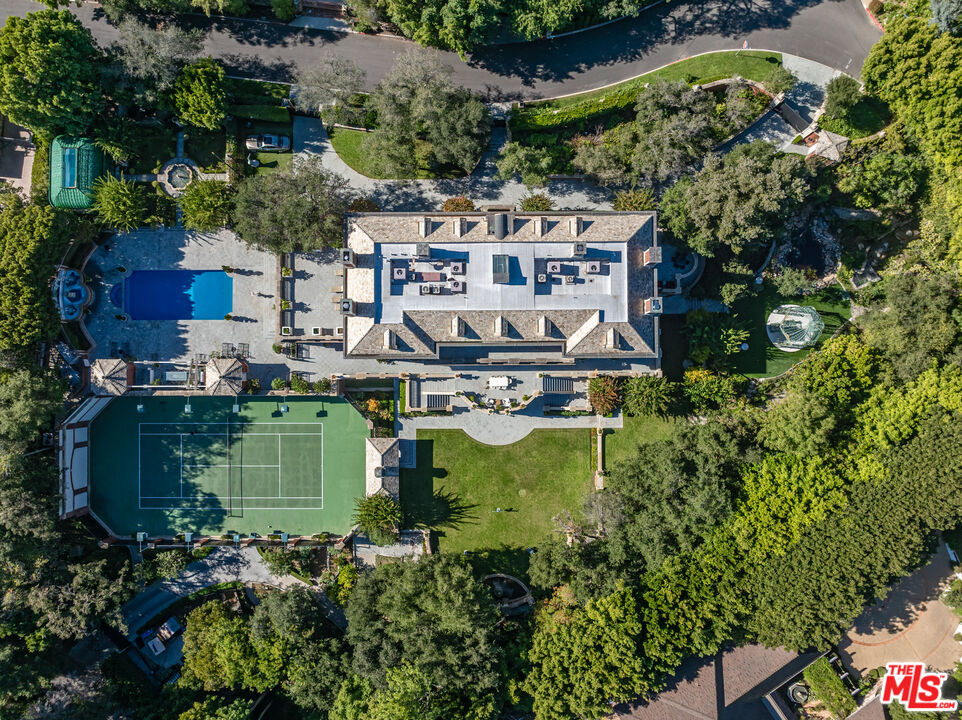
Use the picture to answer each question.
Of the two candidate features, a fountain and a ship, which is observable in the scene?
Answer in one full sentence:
Of the two, only a fountain appears.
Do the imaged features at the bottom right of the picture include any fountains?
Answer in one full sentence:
Yes, there is a fountain at the bottom right of the picture.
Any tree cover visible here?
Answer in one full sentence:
Yes, there is tree cover in the image.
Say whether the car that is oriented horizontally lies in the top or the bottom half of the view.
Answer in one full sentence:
You can find the car that is oriented horizontally in the top half.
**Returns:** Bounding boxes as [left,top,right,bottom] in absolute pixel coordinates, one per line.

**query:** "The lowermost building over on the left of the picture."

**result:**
[365,438,401,504]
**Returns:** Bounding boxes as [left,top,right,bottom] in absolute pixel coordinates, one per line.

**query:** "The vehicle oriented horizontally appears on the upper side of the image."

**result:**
[248,132,290,152]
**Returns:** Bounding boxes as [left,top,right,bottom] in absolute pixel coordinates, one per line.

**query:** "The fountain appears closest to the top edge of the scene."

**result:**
[166,164,194,191]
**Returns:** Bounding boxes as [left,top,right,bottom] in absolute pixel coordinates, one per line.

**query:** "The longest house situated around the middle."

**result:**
[340,203,662,365]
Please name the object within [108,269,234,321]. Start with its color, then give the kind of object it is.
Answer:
blue swimming pool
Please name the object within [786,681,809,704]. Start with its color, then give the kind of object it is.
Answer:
gray fountain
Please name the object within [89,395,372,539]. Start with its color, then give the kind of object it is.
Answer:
green tennis court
